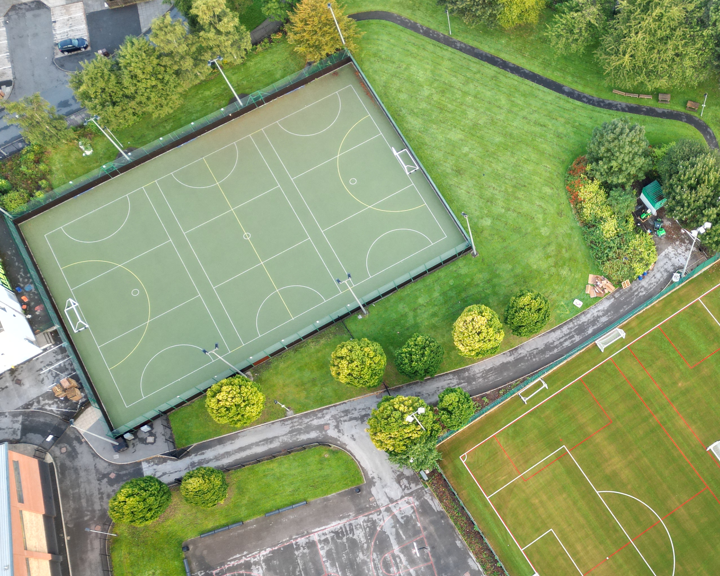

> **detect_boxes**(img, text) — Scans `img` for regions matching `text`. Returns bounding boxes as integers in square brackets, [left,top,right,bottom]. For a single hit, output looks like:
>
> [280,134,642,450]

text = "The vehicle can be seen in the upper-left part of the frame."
[57,38,85,54]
